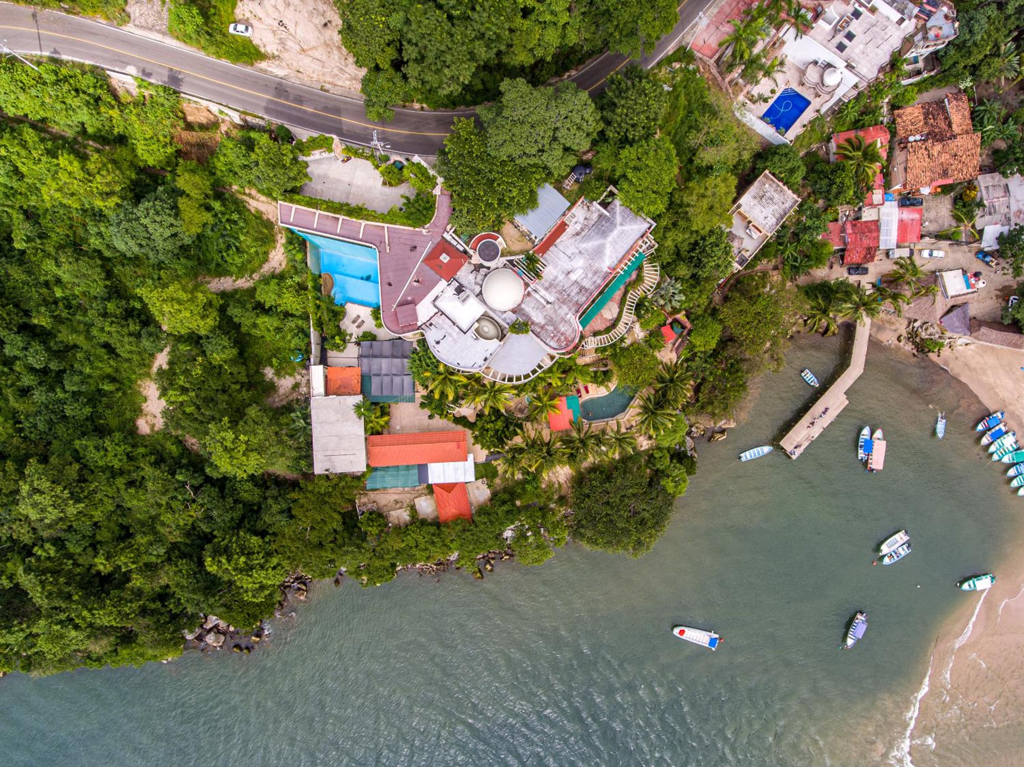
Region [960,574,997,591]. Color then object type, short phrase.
white boat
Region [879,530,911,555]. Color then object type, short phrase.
white boat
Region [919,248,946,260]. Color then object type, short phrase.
white vehicle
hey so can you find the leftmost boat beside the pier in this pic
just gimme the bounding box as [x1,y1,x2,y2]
[737,447,774,463]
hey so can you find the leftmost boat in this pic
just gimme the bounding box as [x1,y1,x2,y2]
[673,628,719,650]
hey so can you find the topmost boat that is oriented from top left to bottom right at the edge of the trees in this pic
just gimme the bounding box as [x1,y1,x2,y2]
[800,368,820,387]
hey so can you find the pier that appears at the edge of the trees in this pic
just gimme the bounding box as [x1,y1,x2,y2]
[778,316,871,459]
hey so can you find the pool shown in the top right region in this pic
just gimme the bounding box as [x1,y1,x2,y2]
[761,87,813,136]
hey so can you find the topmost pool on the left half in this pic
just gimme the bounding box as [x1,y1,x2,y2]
[285,227,416,345]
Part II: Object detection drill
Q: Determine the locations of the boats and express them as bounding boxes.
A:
[1009,474,1024,488]
[846,611,868,649]
[1000,450,1024,464]
[1005,463,1024,477]
[979,423,1009,445]
[991,440,1021,461]
[975,409,1006,431]
[960,574,997,591]
[866,427,888,473]
[936,414,946,439]
[882,544,913,564]
[737,447,774,463]
[857,426,874,462]
[673,628,719,650]
[988,430,1018,453]
[879,530,911,555]
[800,368,820,387]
